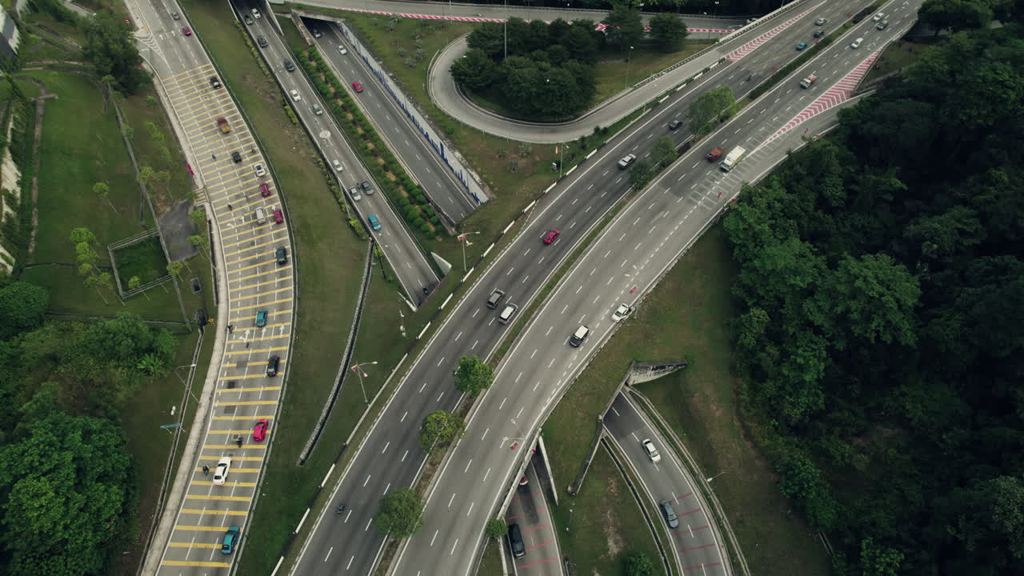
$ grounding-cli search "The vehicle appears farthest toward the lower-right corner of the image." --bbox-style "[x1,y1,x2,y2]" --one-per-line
[660,498,679,529]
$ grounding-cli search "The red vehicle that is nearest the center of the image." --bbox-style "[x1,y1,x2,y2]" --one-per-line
[542,228,561,245]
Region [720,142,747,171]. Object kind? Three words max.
truck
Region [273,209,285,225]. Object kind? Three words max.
vehicle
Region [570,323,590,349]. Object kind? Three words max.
car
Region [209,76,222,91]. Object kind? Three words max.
vehicle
